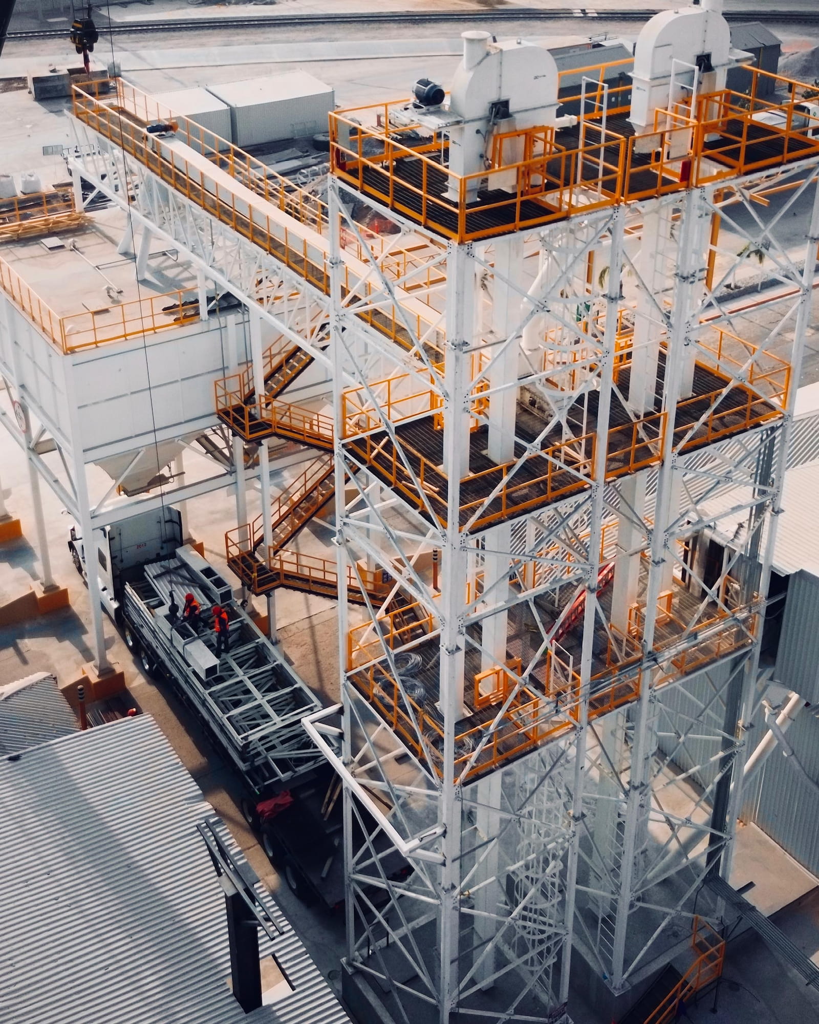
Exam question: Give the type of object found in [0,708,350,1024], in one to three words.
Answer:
shed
